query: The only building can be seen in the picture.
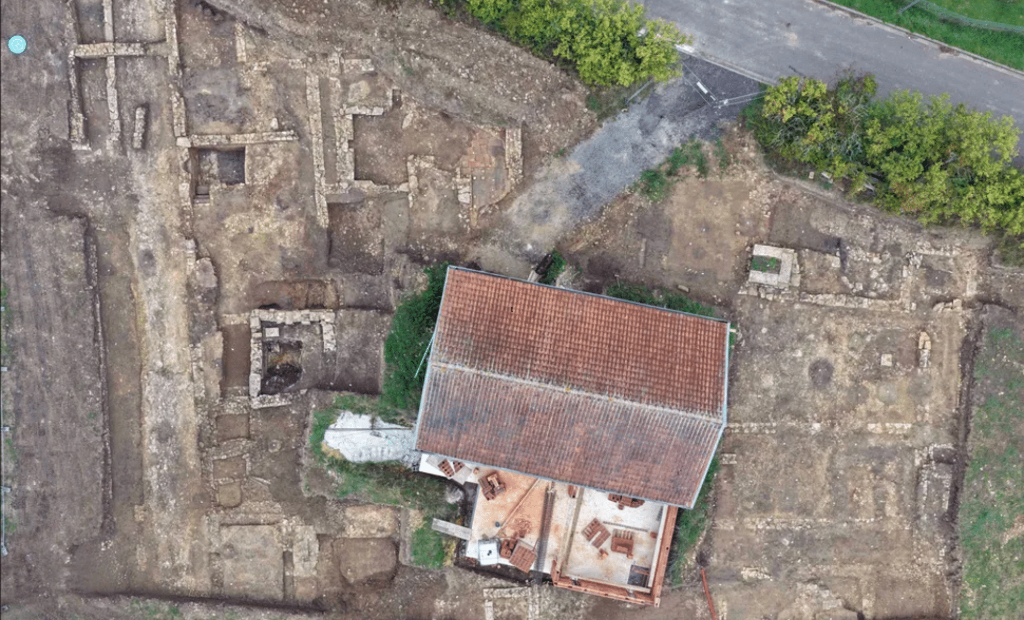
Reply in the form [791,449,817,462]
[412,263,732,512]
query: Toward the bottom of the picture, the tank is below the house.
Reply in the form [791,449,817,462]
[478,540,500,573]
